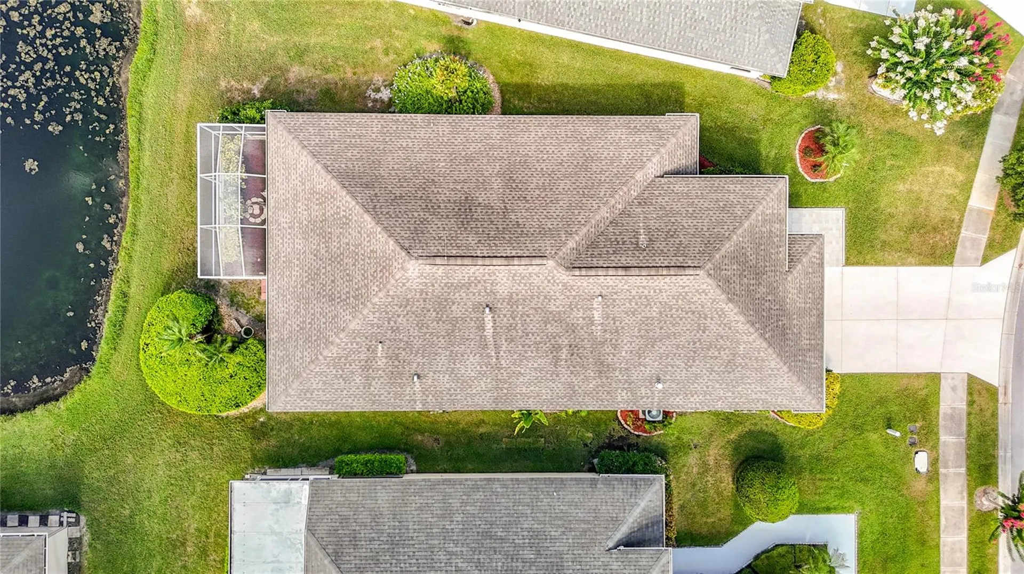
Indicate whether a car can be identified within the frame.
No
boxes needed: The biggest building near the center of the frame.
[264,110,827,414]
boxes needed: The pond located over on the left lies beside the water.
[0,0,128,392]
